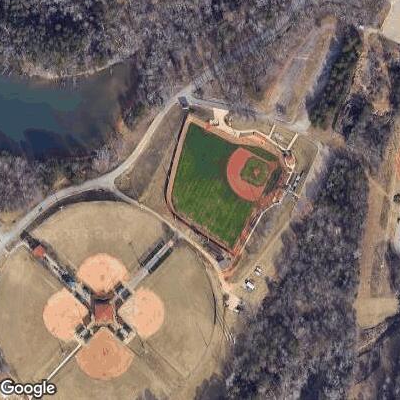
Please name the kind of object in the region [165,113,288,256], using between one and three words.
baseball field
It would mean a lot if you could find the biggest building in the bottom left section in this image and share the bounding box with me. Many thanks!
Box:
[94,302,113,324]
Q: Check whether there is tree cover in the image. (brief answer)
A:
Yes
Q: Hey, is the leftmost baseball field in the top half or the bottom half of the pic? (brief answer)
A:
bottom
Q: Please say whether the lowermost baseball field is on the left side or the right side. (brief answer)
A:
left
